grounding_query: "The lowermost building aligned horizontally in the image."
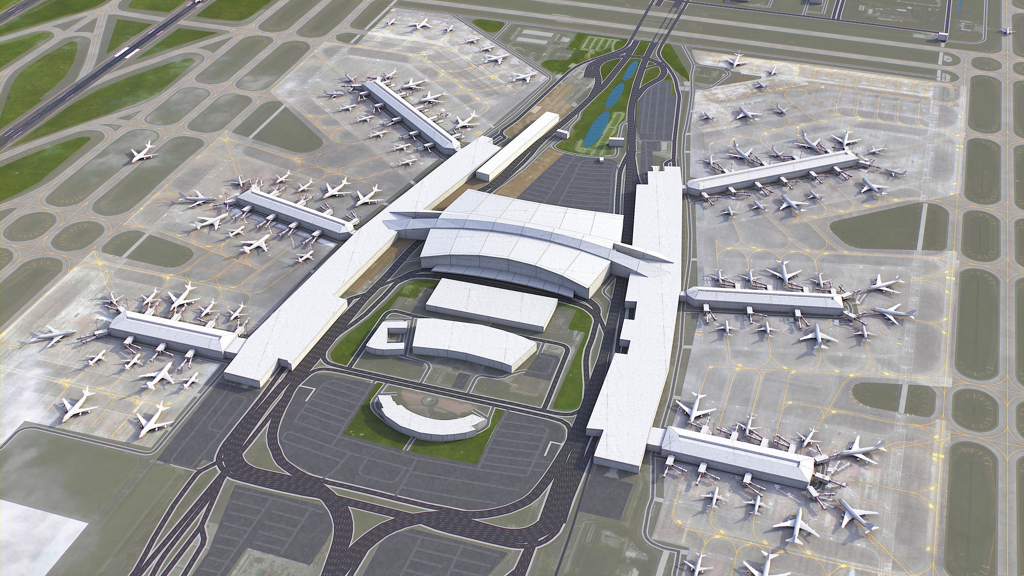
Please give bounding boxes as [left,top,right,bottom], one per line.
[378,395,486,441]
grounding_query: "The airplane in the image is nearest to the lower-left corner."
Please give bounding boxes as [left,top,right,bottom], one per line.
[62,388,99,422]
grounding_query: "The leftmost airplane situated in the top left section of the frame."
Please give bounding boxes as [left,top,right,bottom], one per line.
[131,141,158,163]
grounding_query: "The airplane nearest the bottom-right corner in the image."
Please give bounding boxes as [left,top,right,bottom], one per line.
[839,498,879,531]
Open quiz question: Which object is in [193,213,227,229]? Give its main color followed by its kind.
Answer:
white airplane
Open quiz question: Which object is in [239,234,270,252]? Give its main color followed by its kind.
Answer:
white airplane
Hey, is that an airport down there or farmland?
airport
